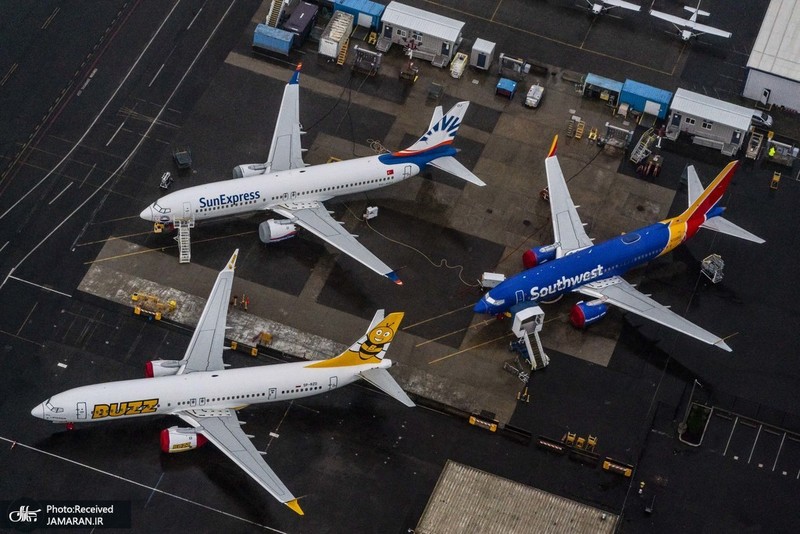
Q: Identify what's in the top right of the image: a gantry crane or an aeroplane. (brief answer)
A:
aeroplane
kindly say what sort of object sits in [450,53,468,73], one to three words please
work vehicle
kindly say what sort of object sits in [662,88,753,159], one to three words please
trailer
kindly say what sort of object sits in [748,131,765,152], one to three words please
work vehicle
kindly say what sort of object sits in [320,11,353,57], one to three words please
trailer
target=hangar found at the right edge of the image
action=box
[735,0,800,107]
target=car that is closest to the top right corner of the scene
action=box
[746,107,777,130]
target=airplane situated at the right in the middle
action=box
[473,136,765,353]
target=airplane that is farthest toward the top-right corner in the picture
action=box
[649,0,733,47]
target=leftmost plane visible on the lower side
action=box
[32,251,415,516]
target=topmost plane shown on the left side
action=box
[141,65,486,287]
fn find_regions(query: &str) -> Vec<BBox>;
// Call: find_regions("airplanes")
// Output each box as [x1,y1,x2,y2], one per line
[141,65,486,287]
[587,0,642,20]
[649,0,733,47]
[473,136,765,353]
[32,251,415,516]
